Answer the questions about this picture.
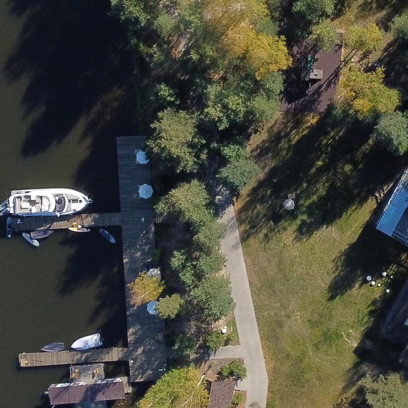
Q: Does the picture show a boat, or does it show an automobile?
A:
boat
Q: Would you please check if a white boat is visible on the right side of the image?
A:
No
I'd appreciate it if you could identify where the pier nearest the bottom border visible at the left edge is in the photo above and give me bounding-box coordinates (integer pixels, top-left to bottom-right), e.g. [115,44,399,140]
[19,347,130,367]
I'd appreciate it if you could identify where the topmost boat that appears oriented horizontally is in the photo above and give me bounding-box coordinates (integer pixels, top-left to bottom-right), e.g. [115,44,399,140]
[10,190,95,217]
